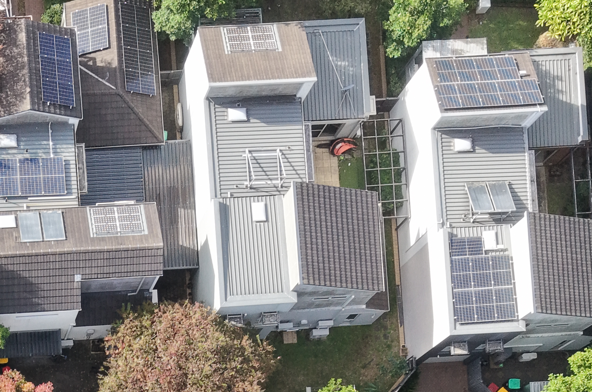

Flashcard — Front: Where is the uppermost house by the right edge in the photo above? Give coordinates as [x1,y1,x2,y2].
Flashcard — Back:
[385,38,592,362]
